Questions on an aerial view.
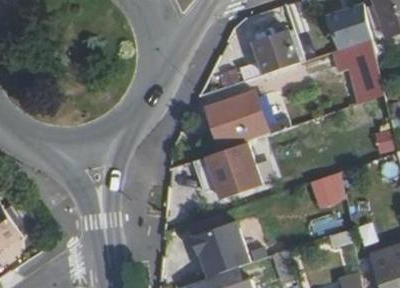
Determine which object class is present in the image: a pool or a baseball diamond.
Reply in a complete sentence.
I can see a pool in this picture.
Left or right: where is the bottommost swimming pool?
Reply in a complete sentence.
It is on the right.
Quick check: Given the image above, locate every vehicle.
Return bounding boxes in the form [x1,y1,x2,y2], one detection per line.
[108,169,120,192]
[146,86,162,108]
